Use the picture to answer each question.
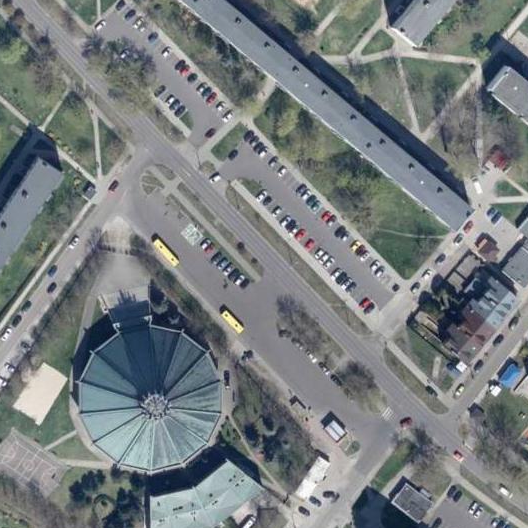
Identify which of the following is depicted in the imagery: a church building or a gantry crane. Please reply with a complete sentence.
Of the two, only a church building appears.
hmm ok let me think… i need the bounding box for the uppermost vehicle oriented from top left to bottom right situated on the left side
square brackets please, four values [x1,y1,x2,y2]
[151,237,180,265]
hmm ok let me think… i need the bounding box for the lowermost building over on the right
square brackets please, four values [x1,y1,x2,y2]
[392,482,433,523]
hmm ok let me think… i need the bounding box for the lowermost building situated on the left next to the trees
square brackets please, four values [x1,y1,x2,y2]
[150,460,264,528]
